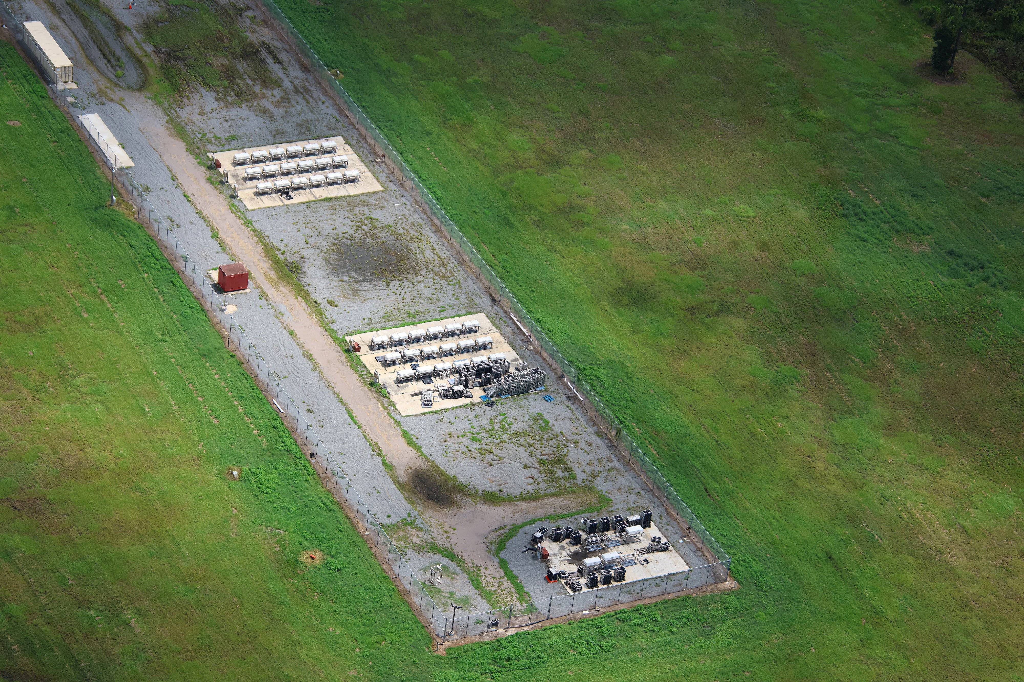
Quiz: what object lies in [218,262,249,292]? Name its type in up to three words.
shed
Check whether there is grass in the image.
Yes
